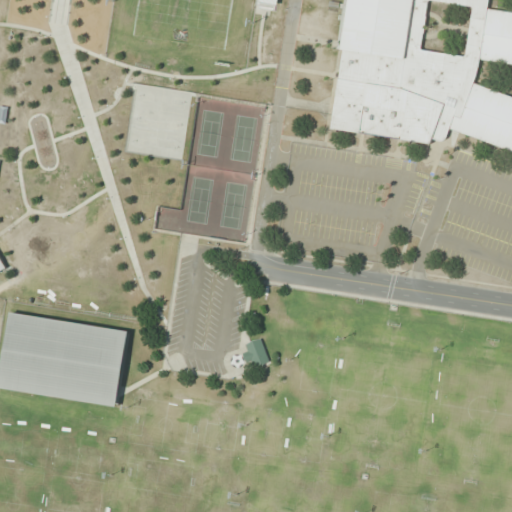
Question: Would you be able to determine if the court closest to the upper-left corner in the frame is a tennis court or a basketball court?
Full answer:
I'd say the court closest to the upper-left corner is a basketball court.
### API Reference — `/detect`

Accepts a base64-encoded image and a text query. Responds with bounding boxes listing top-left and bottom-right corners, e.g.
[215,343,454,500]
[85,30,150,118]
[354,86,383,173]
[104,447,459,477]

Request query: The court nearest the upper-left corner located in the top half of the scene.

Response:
[127,84,192,160]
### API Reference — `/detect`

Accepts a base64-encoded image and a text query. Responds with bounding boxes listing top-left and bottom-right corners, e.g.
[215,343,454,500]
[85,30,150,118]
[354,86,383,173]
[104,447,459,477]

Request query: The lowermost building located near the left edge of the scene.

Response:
[0,312,130,407]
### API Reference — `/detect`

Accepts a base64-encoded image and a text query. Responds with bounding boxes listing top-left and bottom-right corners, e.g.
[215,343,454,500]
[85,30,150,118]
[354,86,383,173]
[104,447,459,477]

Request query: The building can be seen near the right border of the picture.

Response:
[332,0,512,150]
